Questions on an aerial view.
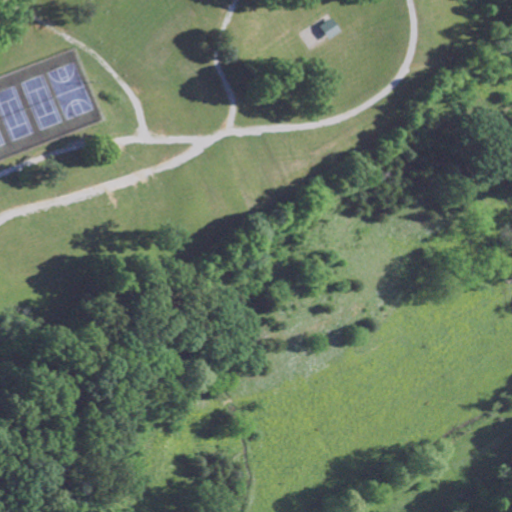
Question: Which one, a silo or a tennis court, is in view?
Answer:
tennis court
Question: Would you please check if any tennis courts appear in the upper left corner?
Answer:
Yes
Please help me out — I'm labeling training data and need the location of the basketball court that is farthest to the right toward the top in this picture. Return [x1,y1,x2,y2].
[48,62,93,120]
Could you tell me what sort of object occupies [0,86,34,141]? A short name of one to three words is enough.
tennis court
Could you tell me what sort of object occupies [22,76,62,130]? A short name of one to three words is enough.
tennis court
